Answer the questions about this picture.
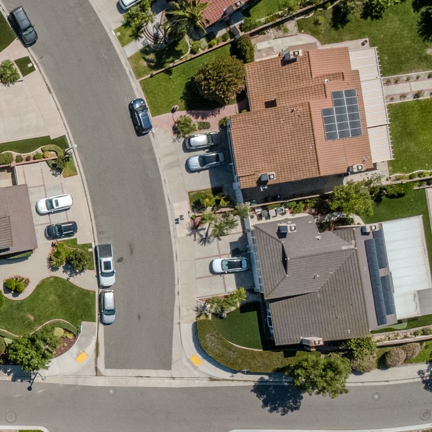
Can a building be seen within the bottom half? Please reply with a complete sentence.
Yes, a building is visible within the bottom half.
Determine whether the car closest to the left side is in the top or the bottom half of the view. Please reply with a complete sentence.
Seen from above, the car closest to the left side lies in the top half of the view.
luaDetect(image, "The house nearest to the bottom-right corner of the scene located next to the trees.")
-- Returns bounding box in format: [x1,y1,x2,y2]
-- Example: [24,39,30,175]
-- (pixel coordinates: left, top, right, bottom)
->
[246,215,398,347]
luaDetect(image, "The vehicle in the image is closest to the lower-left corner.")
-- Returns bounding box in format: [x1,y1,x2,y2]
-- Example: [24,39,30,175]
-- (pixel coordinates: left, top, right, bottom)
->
[99,290,117,324]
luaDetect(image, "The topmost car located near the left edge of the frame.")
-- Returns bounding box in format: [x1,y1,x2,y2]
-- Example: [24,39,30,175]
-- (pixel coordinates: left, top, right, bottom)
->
[8,7,35,45]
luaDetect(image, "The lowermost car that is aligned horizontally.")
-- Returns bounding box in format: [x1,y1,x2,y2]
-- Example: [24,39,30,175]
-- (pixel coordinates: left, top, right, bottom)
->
[209,257,248,274]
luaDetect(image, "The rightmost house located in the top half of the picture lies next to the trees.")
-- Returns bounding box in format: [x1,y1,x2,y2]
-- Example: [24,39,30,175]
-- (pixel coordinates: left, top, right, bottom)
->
[219,47,374,189]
